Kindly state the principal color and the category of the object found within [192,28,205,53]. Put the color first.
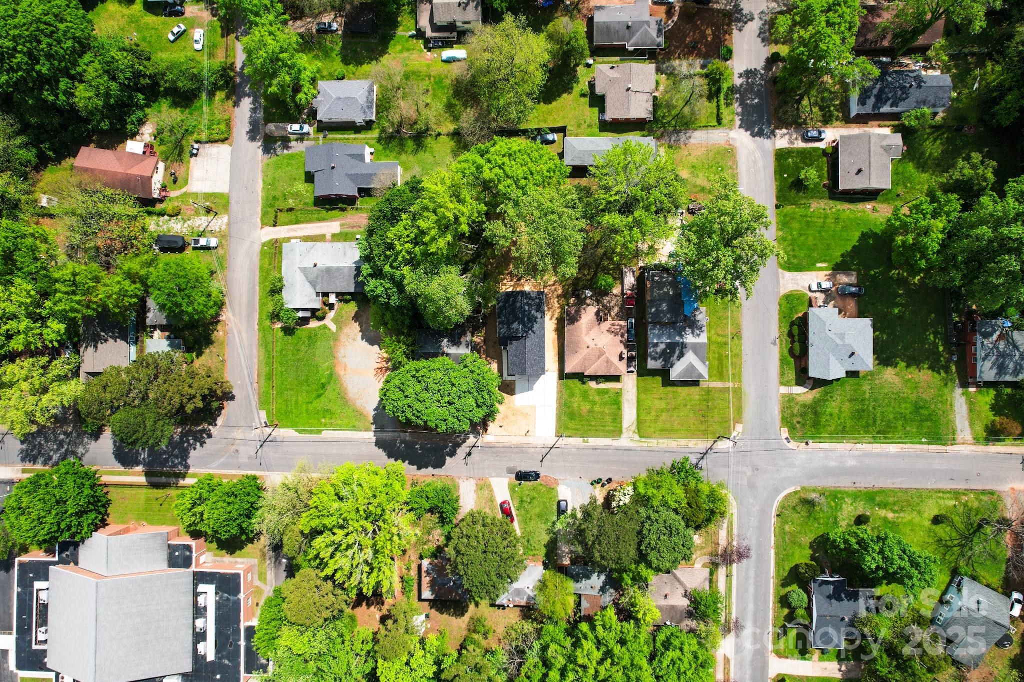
white vehicle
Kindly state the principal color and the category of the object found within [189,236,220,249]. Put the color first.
white vehicle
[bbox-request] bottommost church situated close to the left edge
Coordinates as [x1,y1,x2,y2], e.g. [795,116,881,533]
[0,524,273,682]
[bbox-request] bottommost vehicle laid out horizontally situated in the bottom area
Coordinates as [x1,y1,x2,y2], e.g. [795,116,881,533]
[514,470,541,483]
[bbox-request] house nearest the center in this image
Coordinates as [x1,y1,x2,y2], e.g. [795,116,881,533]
[497,281,545,380]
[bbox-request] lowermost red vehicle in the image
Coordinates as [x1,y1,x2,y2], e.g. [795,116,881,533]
[499,499,515,524]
